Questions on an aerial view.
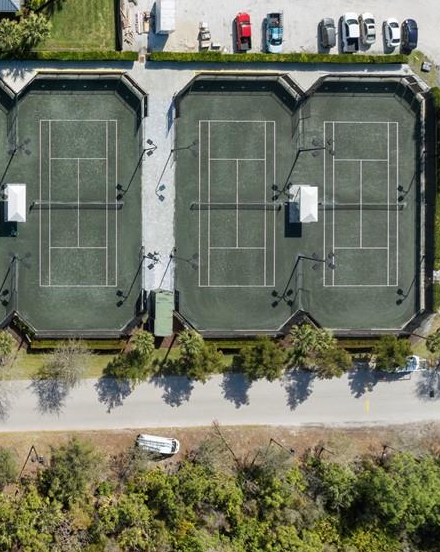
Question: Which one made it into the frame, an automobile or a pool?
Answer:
automobile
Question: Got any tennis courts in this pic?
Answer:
Yes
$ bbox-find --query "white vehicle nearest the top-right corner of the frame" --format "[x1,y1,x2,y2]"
[382,17,402,50]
